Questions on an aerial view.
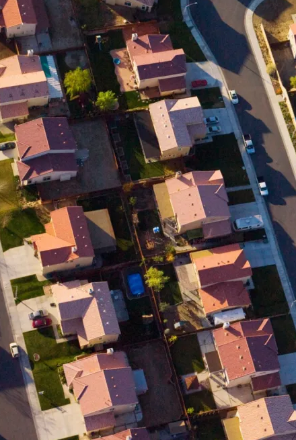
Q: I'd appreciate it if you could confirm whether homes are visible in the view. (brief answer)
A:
Yes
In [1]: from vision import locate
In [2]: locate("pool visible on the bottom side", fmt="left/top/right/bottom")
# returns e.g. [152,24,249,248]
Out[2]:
[127,271,146,296]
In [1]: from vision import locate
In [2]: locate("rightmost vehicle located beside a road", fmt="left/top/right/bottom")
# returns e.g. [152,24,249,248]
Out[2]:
[256,177,269,197]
